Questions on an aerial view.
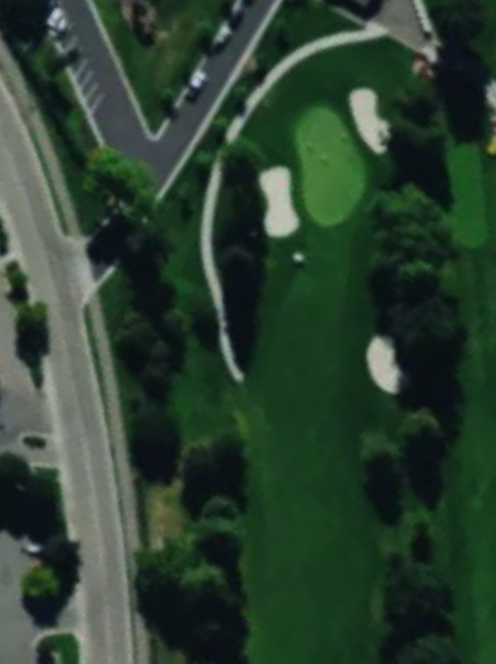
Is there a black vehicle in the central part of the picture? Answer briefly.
No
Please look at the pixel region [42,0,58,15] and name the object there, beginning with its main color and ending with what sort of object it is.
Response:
black car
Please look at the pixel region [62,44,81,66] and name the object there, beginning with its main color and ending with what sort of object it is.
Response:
black car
